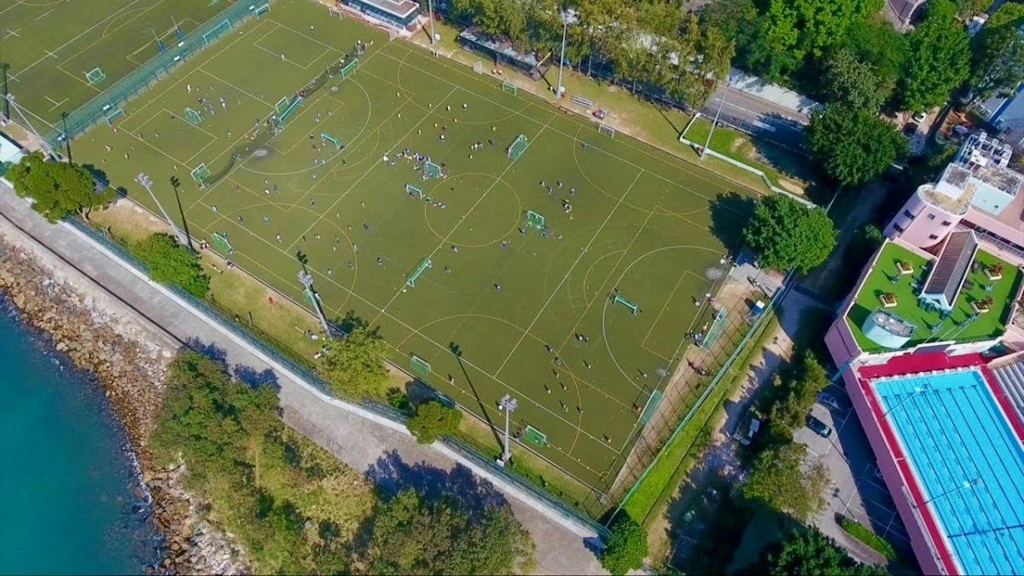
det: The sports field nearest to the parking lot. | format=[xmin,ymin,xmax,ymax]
[110,0,769,499]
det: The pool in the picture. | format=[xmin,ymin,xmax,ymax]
[869,365,1024,576]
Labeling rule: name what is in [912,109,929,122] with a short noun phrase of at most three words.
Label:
vehicle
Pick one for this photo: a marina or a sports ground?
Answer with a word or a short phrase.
sports ground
